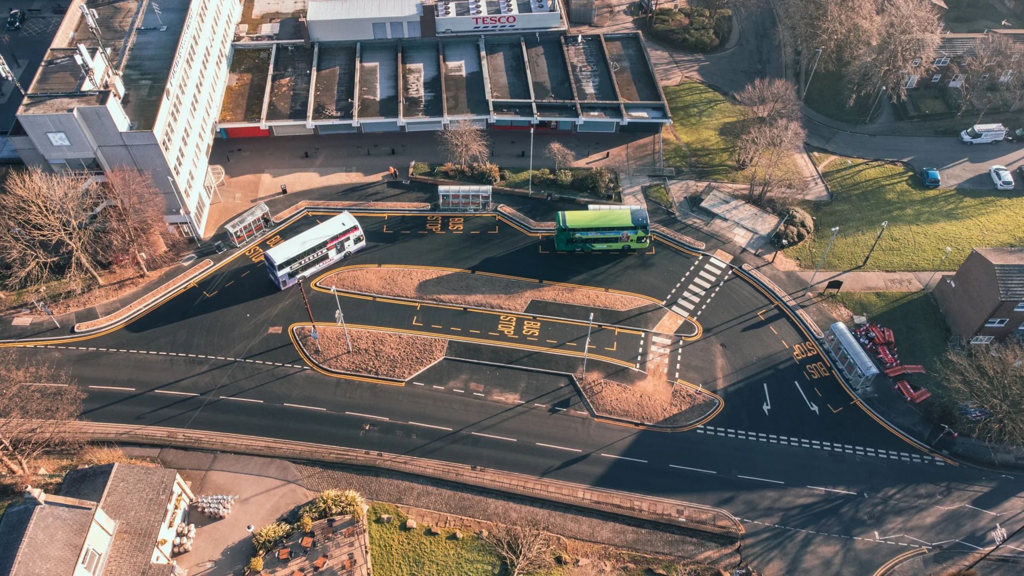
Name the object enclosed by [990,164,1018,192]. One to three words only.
car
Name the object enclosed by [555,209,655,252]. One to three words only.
bus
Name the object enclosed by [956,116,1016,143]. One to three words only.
vehicle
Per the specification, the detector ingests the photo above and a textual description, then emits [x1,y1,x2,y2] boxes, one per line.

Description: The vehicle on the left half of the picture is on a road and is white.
[258,209,370,291]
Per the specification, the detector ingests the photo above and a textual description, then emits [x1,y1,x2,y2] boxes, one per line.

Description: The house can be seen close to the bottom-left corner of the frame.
[0,459,197,576]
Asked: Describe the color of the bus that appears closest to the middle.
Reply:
green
